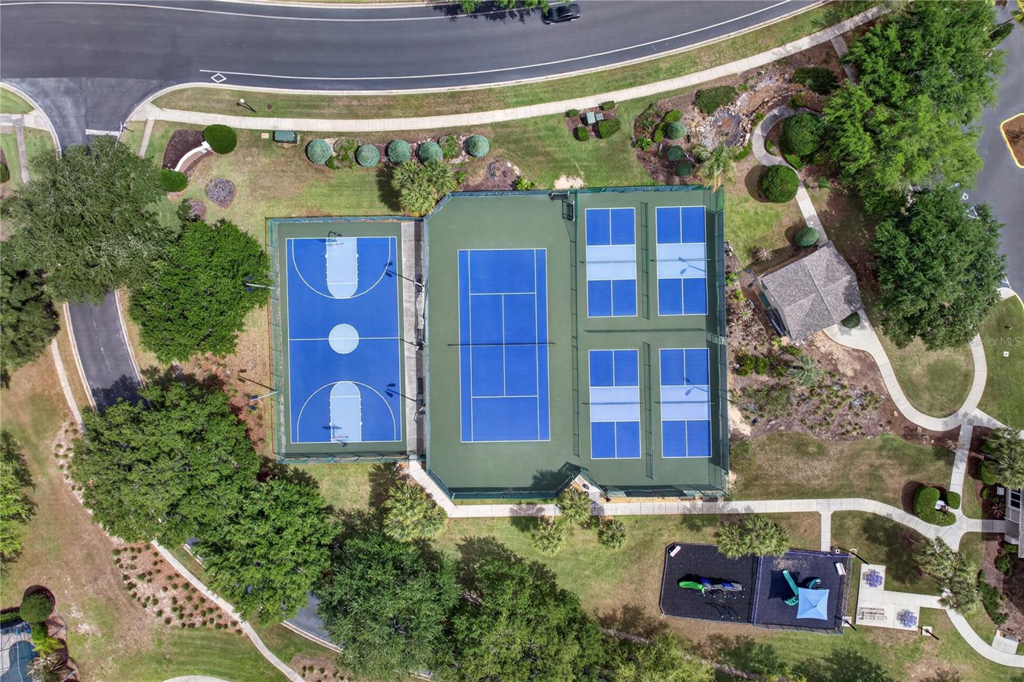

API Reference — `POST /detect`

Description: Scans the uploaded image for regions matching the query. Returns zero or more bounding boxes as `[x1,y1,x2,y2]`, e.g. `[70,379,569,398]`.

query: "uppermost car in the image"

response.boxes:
[541,3,580,25]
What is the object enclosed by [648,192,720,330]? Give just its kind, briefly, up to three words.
sports court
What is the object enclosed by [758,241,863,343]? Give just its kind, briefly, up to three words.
shed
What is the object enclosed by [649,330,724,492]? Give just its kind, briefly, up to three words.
sports court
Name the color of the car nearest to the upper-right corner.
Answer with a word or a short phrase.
black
